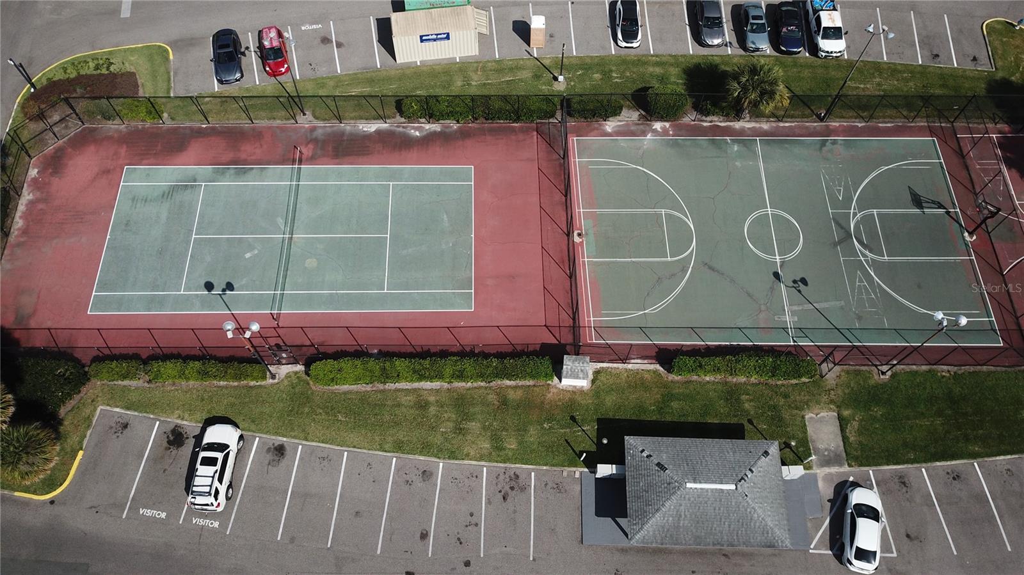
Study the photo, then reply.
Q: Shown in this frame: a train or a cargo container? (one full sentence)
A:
Of the two, only a cargo container appears.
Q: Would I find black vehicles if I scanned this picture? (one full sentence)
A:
Yes, a black vehicle appears in the view.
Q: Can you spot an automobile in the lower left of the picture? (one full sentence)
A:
Yes, an automobile is visible in the lower left of the picture.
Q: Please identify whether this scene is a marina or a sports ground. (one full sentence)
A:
It's a sports ground.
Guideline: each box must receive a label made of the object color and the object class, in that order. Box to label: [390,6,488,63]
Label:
white shipping container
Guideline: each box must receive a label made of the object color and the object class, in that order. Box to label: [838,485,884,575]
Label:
white car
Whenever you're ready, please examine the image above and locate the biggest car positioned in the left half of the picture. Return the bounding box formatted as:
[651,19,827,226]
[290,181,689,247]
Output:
[190,422,241,513]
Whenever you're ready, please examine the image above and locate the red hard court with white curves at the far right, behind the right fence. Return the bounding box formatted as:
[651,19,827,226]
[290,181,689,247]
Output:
[953,123,1024,333]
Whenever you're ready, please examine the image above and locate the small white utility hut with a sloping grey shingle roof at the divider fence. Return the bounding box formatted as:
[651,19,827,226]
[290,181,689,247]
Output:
[563,352,591,386]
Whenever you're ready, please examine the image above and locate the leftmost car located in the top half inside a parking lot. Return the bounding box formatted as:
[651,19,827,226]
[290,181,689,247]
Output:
[210,29,243,86]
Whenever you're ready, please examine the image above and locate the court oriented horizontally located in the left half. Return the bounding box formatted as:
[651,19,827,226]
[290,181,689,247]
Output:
[0,123,574,367]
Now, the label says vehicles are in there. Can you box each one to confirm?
[802,0,845,60]
[210,29,243,86]
[612,0,643,49]
[774,3,807,55]
[693,0,726,50]
[838,485,884,575]
[258,26,287,79]
[190,422,241,513]
[739,2,772,55]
